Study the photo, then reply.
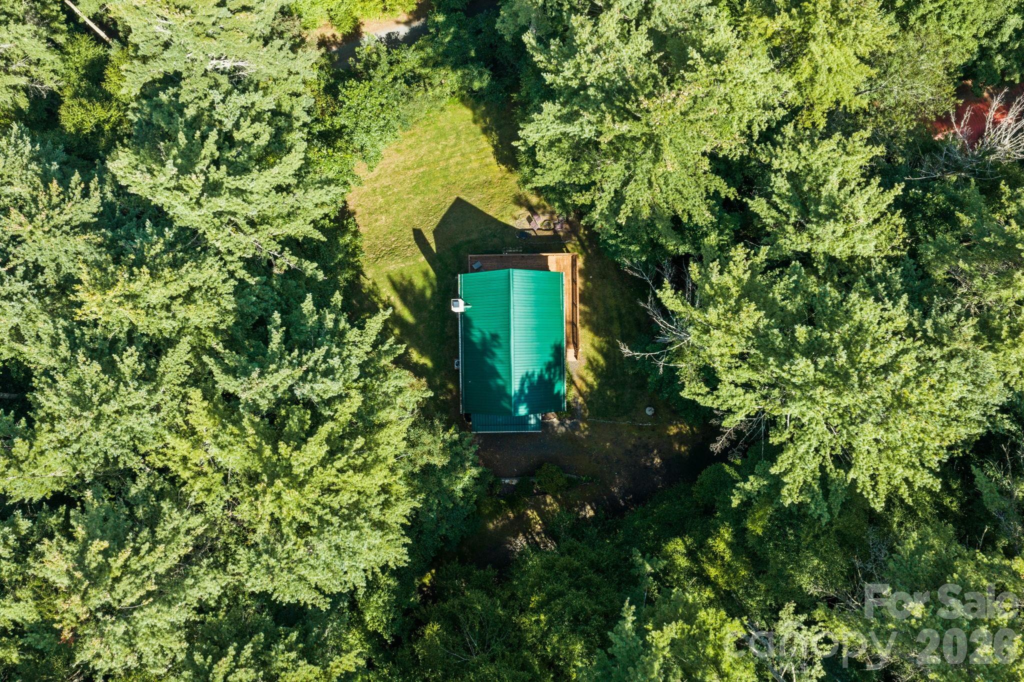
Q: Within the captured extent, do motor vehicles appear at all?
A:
No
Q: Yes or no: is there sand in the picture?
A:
No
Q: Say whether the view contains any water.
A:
No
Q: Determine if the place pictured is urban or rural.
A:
rural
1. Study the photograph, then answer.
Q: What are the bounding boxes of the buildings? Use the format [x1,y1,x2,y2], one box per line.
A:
[451,270,568,434]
